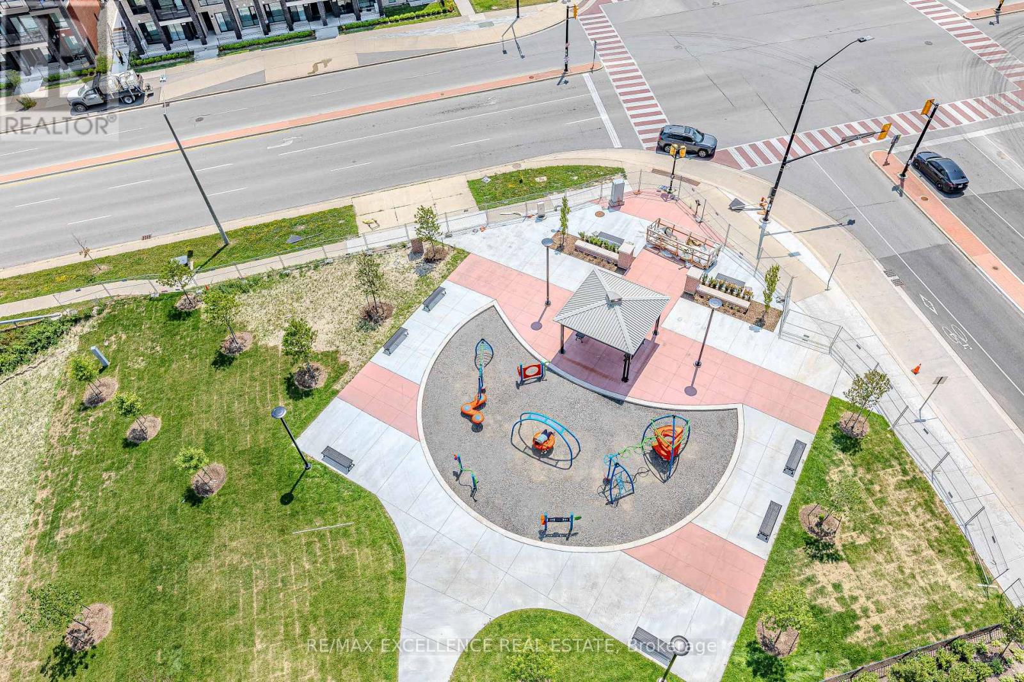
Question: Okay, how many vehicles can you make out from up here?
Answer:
3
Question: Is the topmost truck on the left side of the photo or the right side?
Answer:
left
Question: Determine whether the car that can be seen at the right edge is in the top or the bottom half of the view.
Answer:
top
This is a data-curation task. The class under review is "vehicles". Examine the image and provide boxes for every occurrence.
[63,75,144,112]
[913,148,974,192]
[658,121,720,157]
